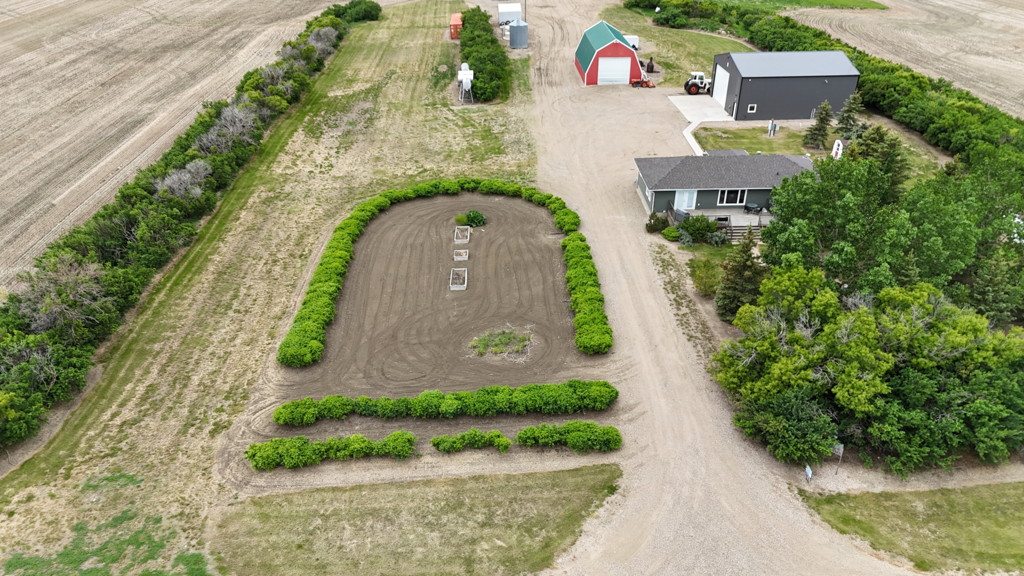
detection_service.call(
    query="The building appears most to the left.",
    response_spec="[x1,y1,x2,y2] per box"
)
[574,20,643,85]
